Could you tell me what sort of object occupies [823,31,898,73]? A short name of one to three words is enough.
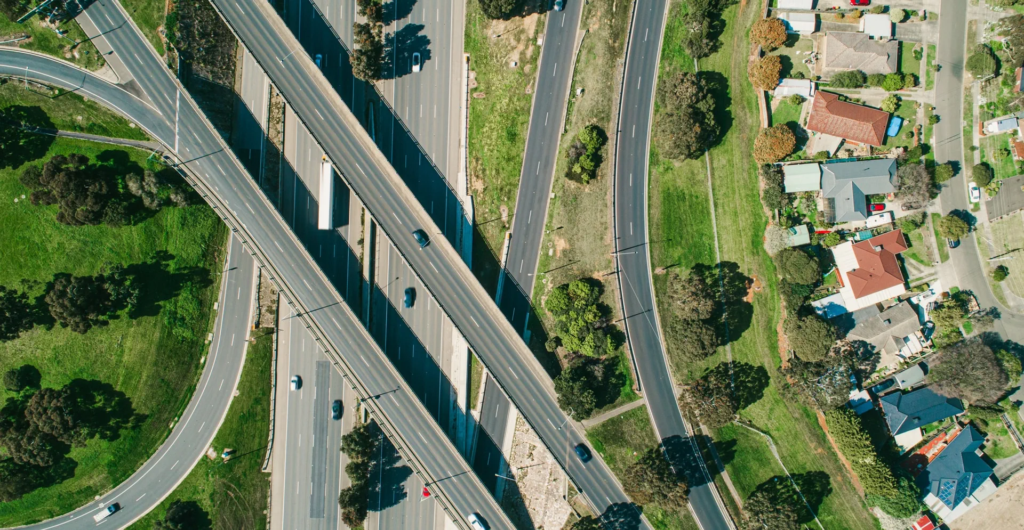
house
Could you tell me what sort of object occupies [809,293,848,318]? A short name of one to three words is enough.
building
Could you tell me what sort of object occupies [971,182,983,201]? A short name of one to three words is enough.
vehicle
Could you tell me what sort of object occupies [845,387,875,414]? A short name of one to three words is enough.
shed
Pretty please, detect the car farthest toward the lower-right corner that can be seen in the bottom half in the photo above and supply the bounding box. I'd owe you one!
[875,380,895,394]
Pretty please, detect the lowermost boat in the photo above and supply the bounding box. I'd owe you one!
[914,295,941,312]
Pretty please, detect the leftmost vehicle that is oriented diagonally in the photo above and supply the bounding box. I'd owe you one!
[93,505,117,523]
